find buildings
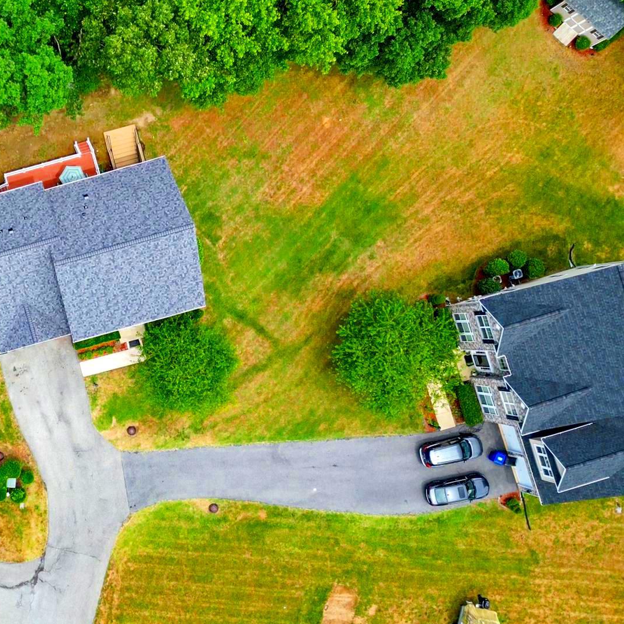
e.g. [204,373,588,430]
[0,155,207,354]
[451,254,624,508]
[550,0,624,56]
